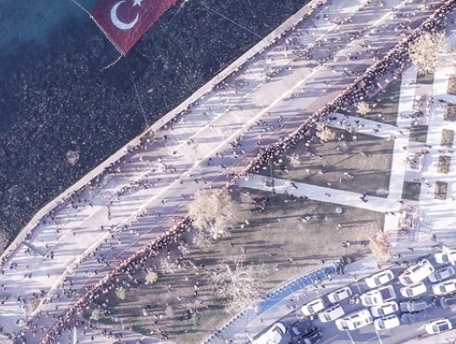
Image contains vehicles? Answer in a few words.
Yes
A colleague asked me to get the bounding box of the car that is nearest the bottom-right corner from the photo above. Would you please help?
[423,317,453,334]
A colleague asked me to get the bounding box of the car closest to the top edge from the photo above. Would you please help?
[432,247,456,264]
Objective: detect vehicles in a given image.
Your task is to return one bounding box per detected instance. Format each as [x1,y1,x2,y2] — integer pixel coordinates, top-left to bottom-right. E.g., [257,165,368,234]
[400,309,427,321]
[286,316,314,337]
[369,300,398,316]
[360,284,399,306]
[398,279,429,298]
[316,302,345,323]
[429,289,456,309]
[372,312,402,330]
[394,254,438,287]
[430,277,456,294]
[326,284,352,304]
[426,263,455,282]
[333,305,374,330]
[432,247,456,264]
[298,295,327,318]
[398,297,427,311]
[423,317,453,334]
[244,313,286,344]
[299,326,325,344]
[364,267,394,287]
